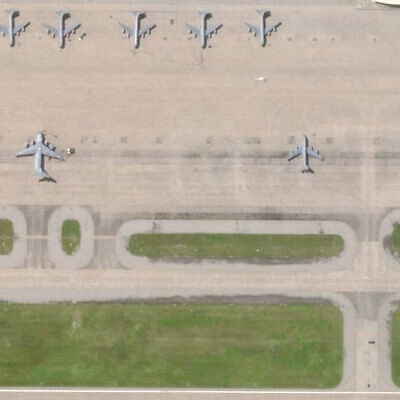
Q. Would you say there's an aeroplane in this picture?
Yes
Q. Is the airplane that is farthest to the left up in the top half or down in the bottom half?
top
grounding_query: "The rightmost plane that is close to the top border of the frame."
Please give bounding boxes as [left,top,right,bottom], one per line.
[244,9,281,47]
